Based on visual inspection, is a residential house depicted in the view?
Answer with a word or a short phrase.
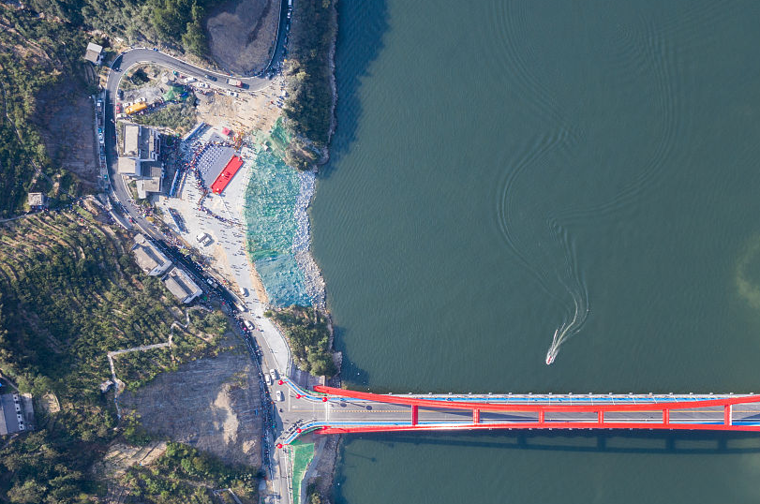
Yes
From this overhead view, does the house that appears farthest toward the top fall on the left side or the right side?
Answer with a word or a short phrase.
left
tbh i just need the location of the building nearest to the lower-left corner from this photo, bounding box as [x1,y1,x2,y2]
[0,392,34,436]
